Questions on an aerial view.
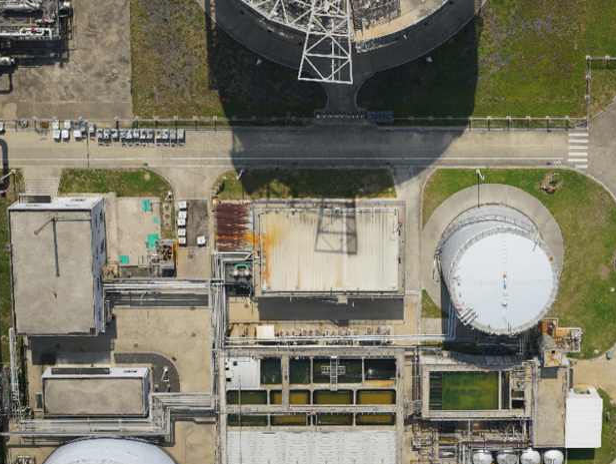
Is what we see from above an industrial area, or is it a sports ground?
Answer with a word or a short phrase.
industrial area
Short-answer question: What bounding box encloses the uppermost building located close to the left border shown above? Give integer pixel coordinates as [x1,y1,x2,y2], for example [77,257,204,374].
[9,192,113,336]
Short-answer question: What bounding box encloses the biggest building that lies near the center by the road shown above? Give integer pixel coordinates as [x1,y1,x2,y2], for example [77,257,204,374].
[253,197,405,299]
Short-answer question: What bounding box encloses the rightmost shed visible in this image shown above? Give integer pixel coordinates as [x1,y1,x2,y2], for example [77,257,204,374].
[565,388,602,448]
